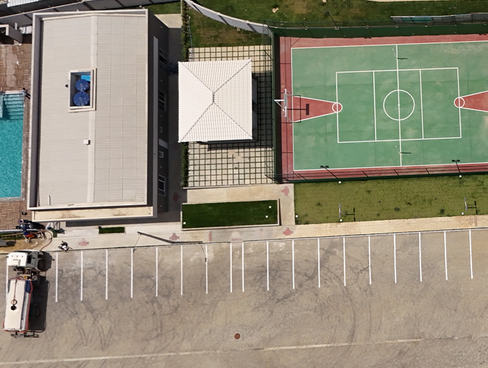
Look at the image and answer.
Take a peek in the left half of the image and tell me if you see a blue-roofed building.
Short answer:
No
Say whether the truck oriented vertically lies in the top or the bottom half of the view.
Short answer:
bottom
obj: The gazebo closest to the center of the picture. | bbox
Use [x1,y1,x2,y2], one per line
[178,58,258,145]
